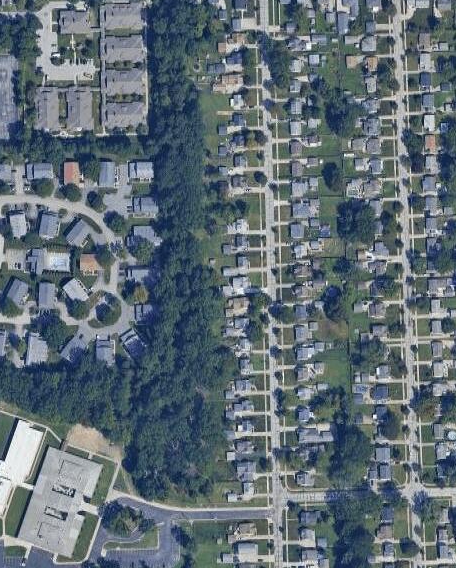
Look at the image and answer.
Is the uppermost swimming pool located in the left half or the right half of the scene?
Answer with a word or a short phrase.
left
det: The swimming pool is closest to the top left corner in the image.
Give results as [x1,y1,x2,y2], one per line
[44,249,69,272]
